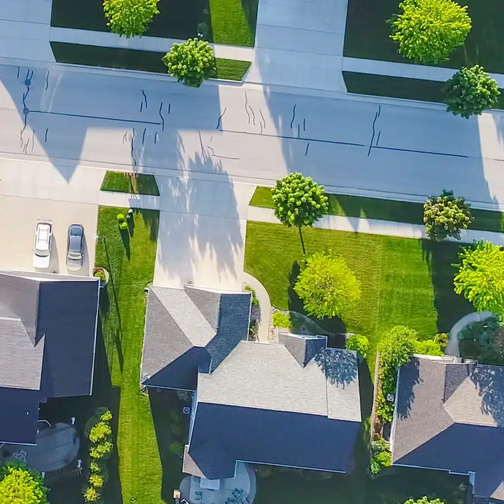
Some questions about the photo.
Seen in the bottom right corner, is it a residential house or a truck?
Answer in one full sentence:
What appears in the bottom right corner is a residential house.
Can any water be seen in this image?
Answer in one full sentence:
No, the scene doesn't show any water.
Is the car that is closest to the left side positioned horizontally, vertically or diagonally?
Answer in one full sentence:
What the image shows is the car that is closest to the left side lying vertically.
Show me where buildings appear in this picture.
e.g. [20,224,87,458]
[0,270,100,449]
[383,353,504,496]
[138,283,362,480]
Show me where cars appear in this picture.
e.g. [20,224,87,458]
[65,224,86,271]
[32,221,55,270]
